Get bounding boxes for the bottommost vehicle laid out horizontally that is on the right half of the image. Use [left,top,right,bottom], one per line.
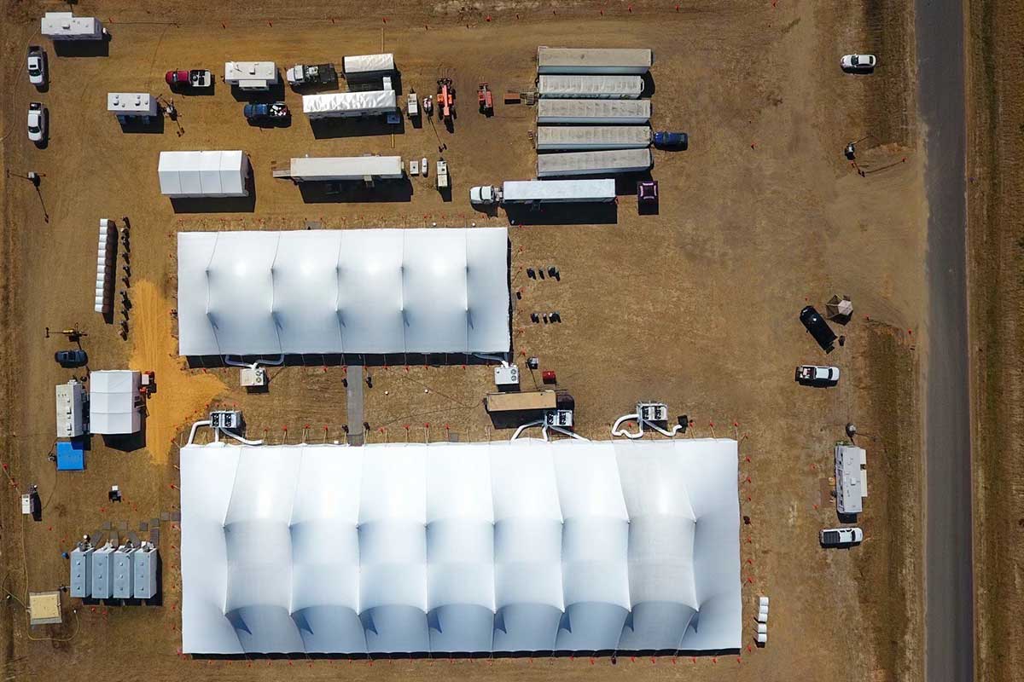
[818,527,861,545]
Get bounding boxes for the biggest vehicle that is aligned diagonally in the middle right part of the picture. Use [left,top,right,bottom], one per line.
[797,307,835,351]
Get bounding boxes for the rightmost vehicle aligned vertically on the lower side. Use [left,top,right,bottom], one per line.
[832,437,867,512]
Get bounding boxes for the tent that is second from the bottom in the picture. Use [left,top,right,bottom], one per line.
[90,371,140,434]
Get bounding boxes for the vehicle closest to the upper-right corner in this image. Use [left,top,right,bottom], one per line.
[839,54,874,71]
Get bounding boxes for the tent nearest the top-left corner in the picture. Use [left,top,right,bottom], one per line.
[158,151,248,197]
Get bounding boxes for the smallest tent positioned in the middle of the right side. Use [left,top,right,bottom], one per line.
[822,293,848,321]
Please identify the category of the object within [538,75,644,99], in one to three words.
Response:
trailer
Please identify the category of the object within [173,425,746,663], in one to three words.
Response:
tent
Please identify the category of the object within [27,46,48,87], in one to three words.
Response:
truck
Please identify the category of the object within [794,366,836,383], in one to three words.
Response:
vehicle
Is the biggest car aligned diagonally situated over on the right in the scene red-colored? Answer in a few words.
No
